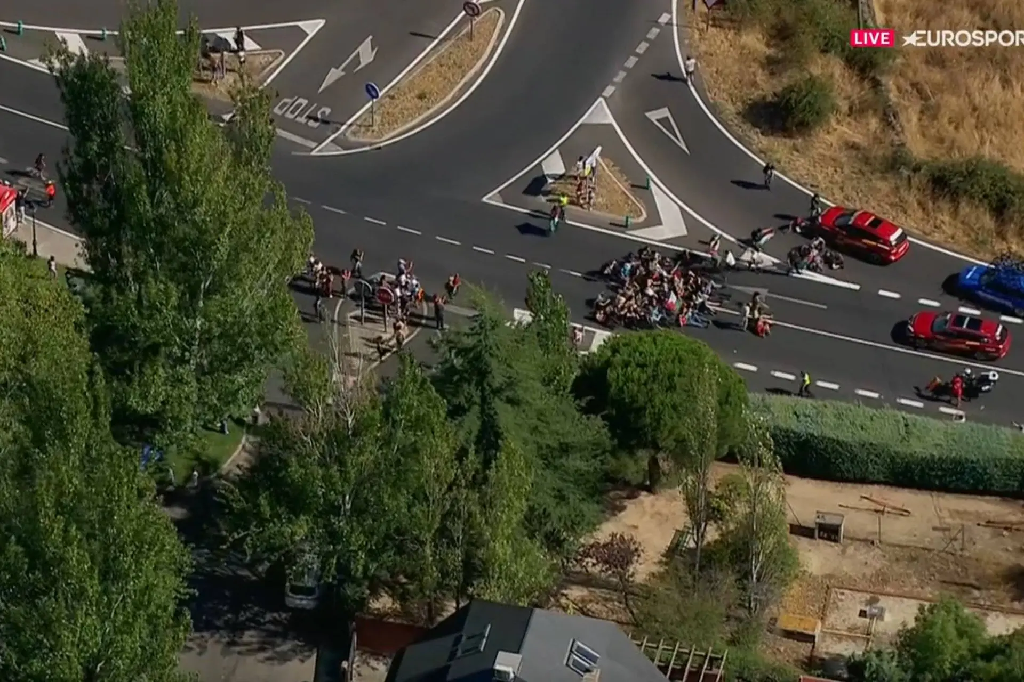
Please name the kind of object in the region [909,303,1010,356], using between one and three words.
car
